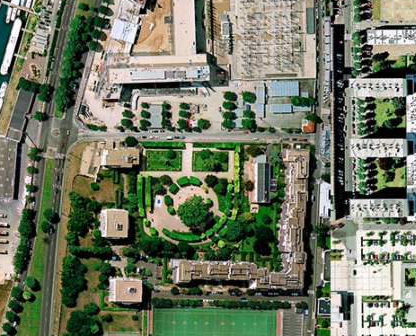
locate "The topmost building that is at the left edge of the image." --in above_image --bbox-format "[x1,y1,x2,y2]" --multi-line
[9,89,35,130]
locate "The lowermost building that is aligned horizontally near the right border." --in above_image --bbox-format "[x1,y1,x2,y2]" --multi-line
[350,199,407,218]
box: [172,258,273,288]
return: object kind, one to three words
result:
house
